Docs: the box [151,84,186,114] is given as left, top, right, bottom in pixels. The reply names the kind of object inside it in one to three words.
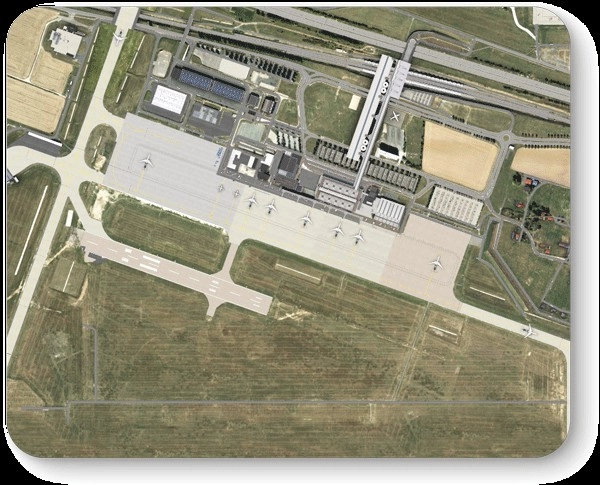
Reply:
building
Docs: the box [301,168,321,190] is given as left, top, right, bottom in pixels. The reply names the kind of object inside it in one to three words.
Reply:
building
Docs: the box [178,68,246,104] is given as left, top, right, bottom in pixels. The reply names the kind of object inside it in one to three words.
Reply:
hangar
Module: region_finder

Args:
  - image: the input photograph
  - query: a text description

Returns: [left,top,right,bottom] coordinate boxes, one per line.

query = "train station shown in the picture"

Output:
[344,57,478,100]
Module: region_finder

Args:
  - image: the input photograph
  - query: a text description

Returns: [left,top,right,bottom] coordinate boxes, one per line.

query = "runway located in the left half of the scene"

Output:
[77,230,272,317]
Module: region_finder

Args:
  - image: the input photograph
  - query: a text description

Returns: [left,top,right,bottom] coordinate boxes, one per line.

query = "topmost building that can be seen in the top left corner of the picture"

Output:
[49,28,81,57]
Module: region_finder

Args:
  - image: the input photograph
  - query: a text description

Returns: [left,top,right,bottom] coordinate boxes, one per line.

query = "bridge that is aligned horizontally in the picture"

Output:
[402,30,476,65]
